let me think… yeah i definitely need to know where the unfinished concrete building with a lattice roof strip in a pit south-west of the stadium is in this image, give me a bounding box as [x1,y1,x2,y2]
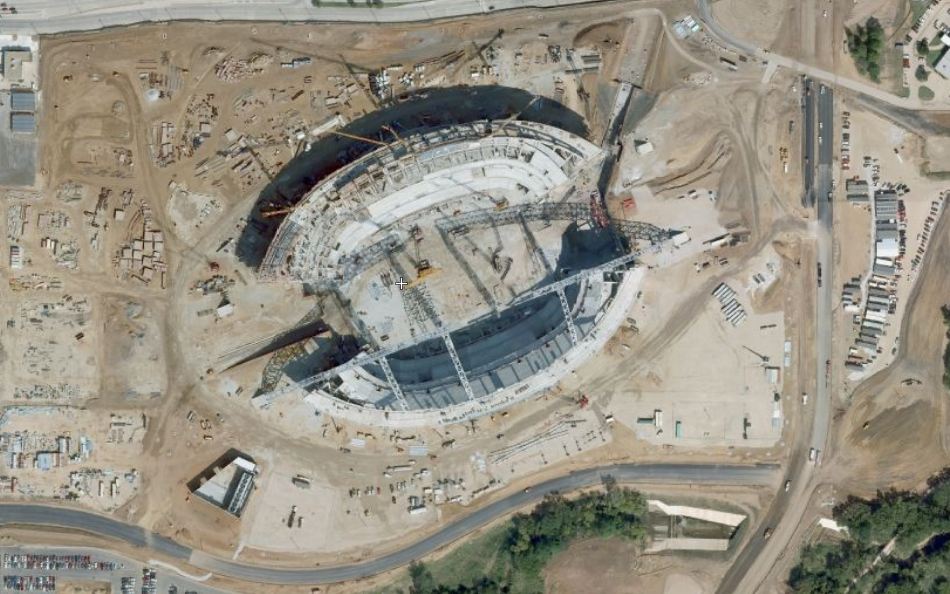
[191,457,258,518]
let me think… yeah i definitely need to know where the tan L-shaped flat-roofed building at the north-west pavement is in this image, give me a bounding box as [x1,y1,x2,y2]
[5,51,31,82]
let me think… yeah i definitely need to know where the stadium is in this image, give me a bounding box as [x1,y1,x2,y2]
[214,82,680,427]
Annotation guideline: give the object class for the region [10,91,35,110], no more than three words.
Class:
shed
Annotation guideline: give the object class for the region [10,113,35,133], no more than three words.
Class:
shed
